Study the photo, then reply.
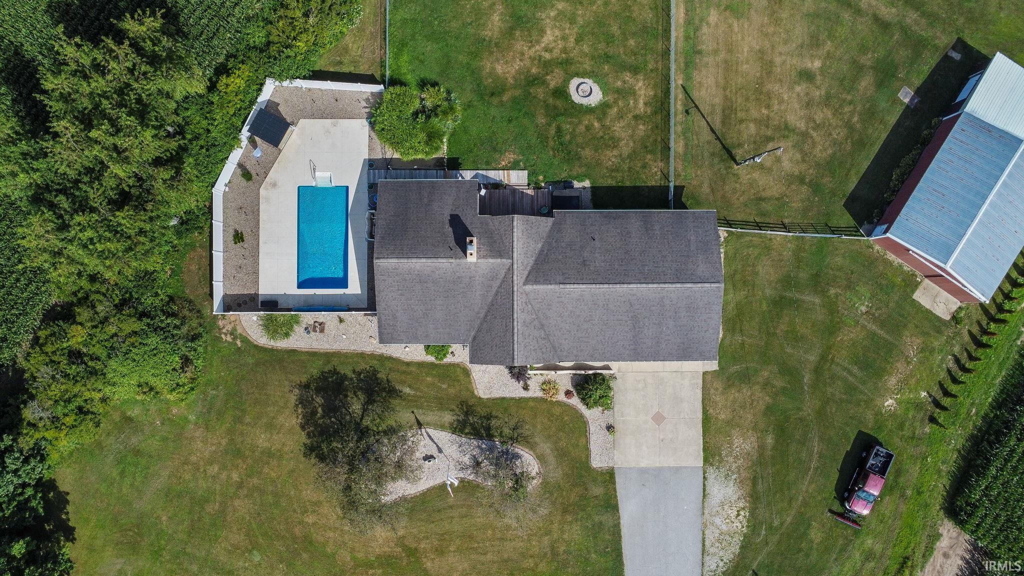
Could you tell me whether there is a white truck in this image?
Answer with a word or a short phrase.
No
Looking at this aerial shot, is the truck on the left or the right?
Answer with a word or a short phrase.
right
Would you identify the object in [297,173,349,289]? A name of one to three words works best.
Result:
swimming pool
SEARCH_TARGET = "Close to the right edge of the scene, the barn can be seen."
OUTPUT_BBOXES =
[869,50,1024,307]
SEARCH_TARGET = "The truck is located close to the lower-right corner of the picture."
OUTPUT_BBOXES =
[829,442,897,527]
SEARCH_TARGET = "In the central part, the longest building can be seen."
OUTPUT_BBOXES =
[371,179,726,369]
